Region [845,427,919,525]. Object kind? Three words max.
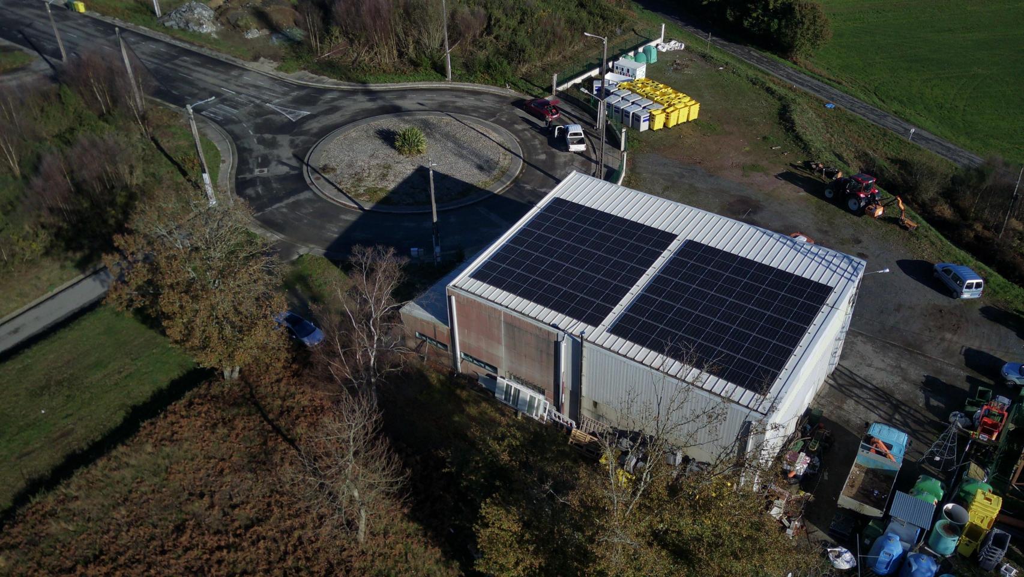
truck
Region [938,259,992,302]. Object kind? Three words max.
van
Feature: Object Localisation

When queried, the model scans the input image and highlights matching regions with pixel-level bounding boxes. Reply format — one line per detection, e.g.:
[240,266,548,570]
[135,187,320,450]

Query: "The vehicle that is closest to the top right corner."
[827,168,886,212]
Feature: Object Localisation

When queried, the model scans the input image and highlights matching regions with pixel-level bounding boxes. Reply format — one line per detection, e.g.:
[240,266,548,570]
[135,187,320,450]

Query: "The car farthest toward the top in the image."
[520,99,561,122]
